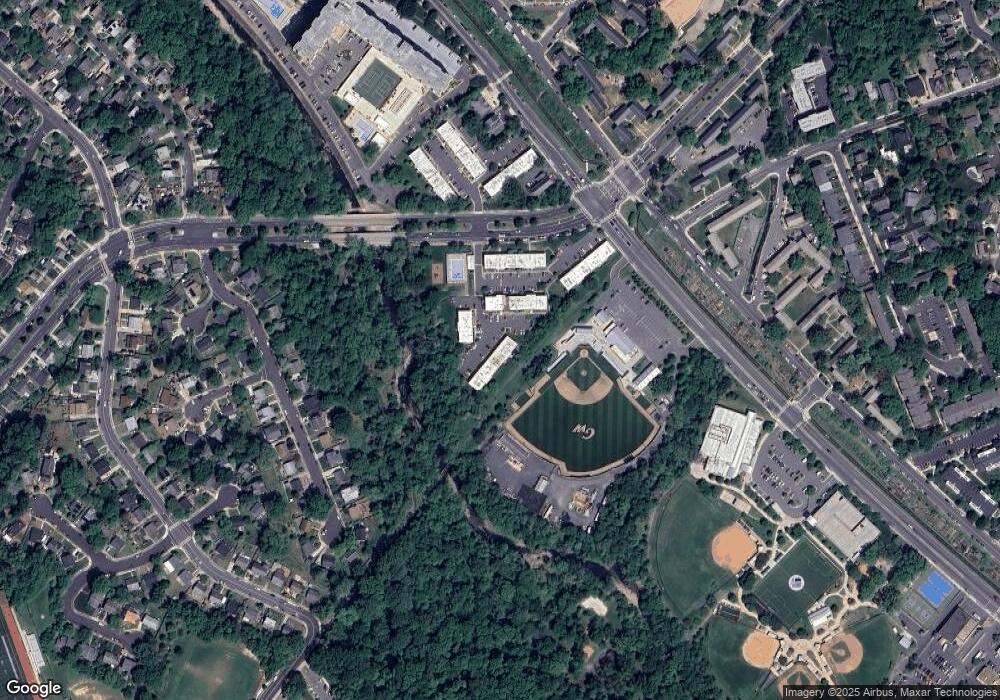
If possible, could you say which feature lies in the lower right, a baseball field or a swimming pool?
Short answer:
baseball field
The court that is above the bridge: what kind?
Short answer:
tennis court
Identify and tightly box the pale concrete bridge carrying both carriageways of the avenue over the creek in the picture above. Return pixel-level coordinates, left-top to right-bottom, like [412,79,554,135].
[312,213,397,246]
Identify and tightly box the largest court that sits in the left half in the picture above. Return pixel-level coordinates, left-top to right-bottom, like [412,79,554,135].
[353,57,401,108]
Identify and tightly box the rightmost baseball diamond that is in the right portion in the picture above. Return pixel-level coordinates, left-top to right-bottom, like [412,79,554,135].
[820,612,898,700]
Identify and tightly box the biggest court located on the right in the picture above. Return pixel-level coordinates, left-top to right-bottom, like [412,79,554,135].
[904,567,961,620]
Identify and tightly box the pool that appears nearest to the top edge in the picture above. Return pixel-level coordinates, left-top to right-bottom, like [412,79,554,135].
[257,0,296,30]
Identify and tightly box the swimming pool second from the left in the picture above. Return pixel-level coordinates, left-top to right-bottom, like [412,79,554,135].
[345,112,377,150]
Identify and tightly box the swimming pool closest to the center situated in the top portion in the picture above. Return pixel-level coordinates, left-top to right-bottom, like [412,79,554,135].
[446,253,466,283]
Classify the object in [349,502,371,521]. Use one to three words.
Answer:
house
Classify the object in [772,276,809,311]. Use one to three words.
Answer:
building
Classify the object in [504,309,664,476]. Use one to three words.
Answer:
baseball field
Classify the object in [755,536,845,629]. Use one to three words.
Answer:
sports field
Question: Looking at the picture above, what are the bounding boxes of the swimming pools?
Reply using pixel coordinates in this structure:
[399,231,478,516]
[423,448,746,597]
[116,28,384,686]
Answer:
[345,112,377,150]
[257,0,296,30]
[446,253,466,283]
